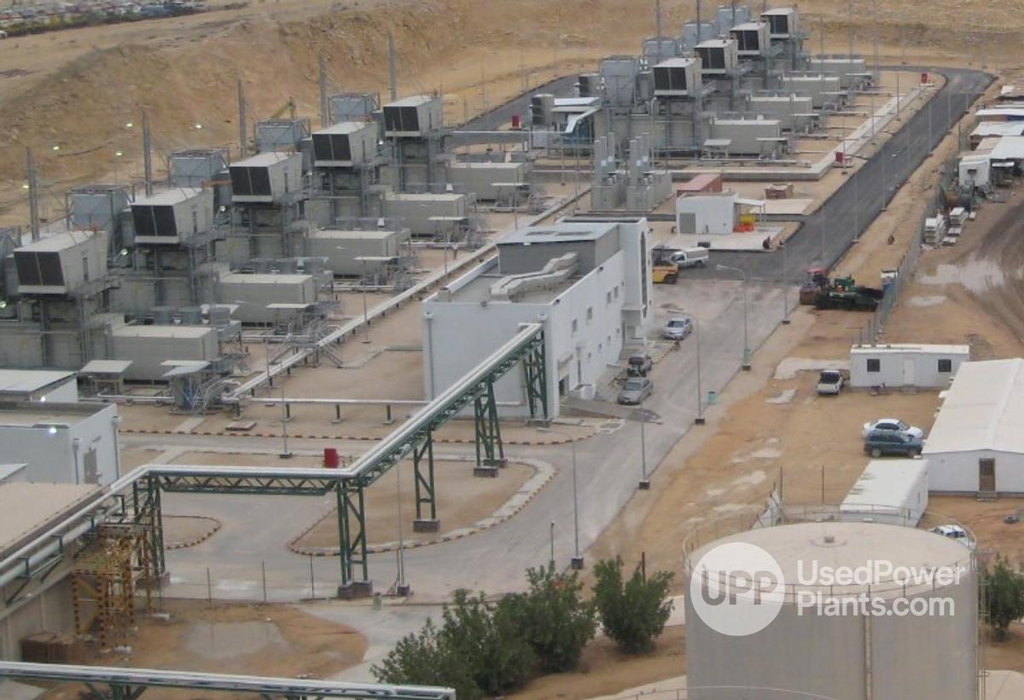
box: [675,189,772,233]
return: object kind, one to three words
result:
building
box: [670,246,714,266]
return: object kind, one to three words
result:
vehicle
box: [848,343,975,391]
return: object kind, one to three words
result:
building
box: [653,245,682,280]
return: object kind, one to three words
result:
work vehicle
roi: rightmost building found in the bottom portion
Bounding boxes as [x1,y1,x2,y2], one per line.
[922,361,1024,498]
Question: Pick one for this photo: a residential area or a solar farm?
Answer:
residential area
